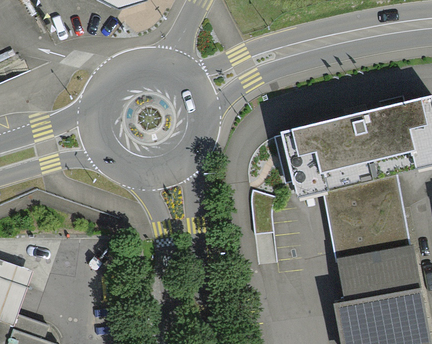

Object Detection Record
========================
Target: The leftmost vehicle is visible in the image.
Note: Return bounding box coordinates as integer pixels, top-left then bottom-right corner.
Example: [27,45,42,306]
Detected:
[26,245,51,258]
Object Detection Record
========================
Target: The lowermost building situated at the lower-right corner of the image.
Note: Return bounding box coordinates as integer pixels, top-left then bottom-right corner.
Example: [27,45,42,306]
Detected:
[334,288,431,344]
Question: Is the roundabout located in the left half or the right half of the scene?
left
